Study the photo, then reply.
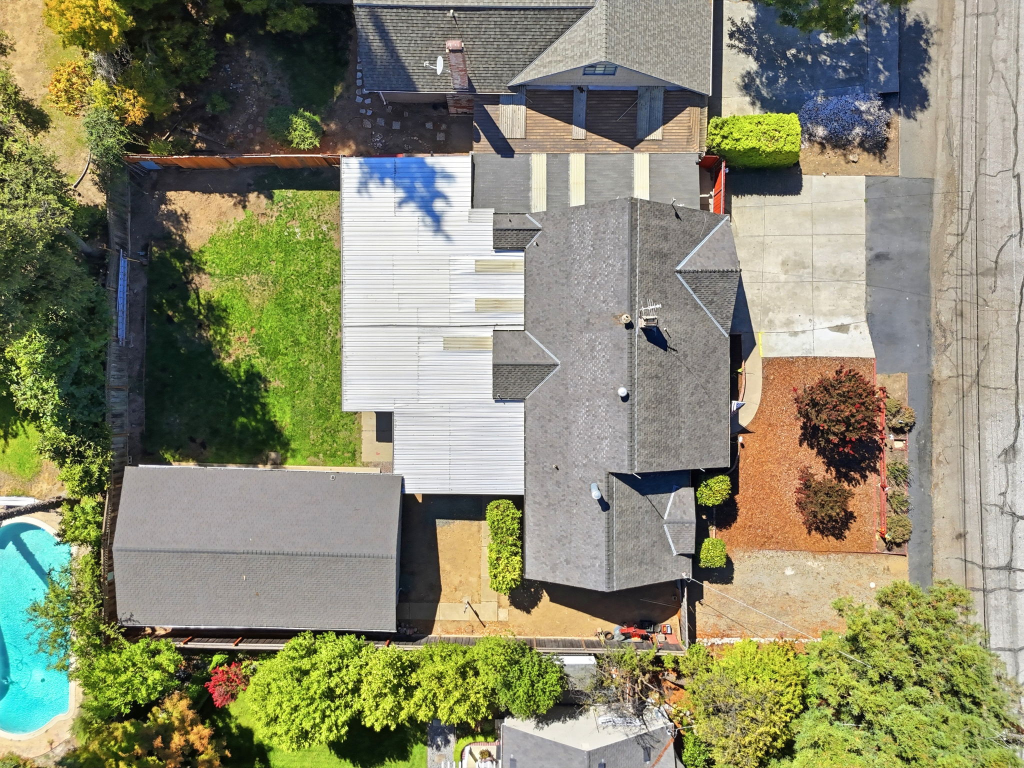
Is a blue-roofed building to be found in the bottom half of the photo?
No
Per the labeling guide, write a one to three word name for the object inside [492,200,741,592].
house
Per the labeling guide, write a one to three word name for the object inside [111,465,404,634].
building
